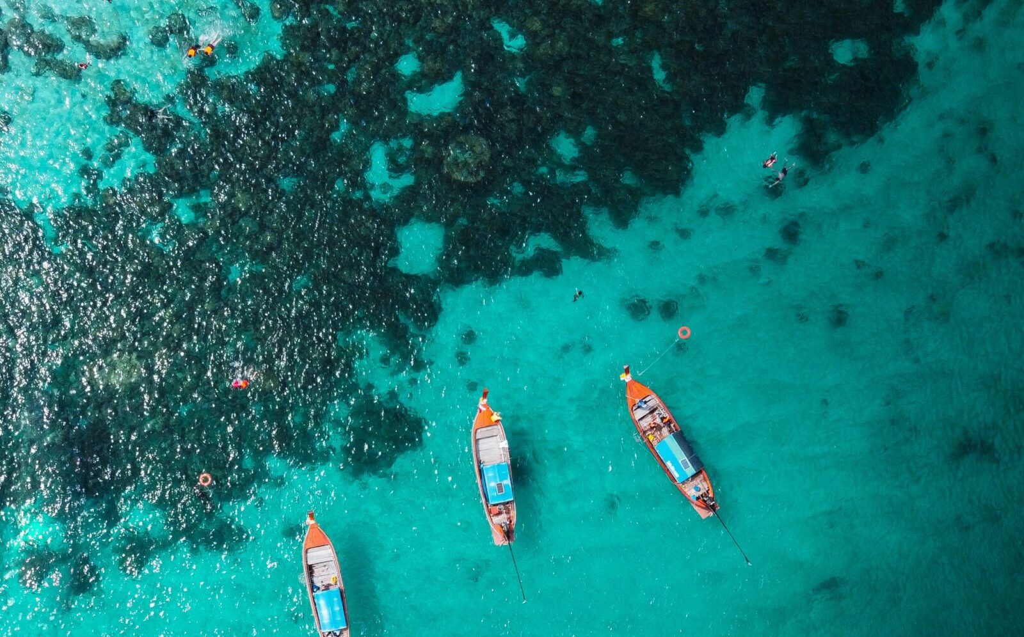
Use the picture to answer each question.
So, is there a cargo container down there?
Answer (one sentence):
No, I can't see a single cargo container in this photo.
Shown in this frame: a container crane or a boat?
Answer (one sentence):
Looking from above, you can make out a boat.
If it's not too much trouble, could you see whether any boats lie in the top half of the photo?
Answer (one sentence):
No, no boat is visible in the top half of the photo.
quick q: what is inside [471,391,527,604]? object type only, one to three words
boat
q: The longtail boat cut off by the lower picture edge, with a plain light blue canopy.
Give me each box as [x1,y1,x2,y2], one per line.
[301,512,355,637]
